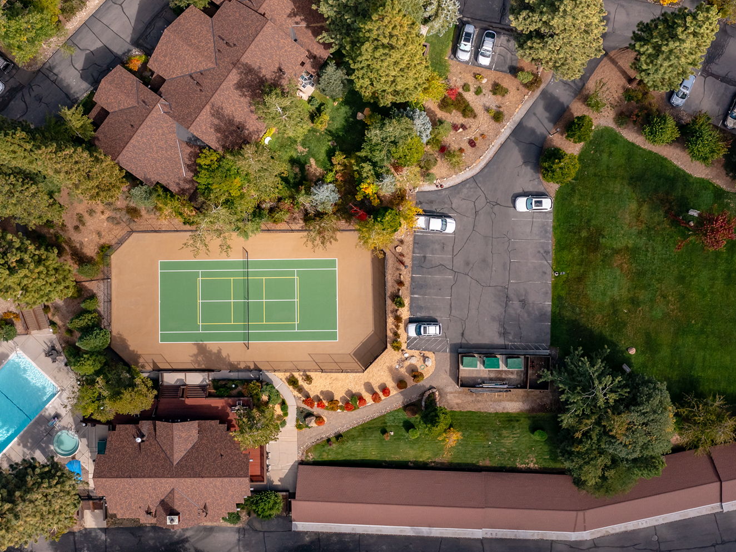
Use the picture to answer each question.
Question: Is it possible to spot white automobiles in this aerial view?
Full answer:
Yes, I can see a white automobile in this picture.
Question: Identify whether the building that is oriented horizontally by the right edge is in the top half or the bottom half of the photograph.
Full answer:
The building that is oriented horizontally by the right edge is in the bottom half of the image.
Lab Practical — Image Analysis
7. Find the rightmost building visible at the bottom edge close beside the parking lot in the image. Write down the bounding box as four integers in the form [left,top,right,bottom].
[483,445,722,541]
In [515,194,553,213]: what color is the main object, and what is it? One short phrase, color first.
white car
